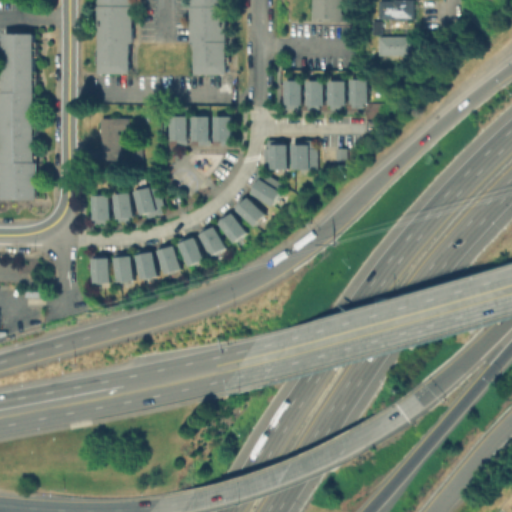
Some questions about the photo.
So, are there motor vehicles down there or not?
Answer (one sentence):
Yes, the frame does contain a motor vehicle.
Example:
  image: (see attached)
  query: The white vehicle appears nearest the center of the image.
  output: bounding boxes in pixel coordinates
[269,252,291,270]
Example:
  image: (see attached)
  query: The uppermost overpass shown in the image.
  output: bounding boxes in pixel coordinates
[227,264,512,393]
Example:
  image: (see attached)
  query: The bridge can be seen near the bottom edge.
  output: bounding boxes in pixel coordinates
[154,402,410,512]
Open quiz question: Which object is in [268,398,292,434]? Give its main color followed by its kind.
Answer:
white truck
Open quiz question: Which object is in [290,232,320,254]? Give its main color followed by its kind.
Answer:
white truck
